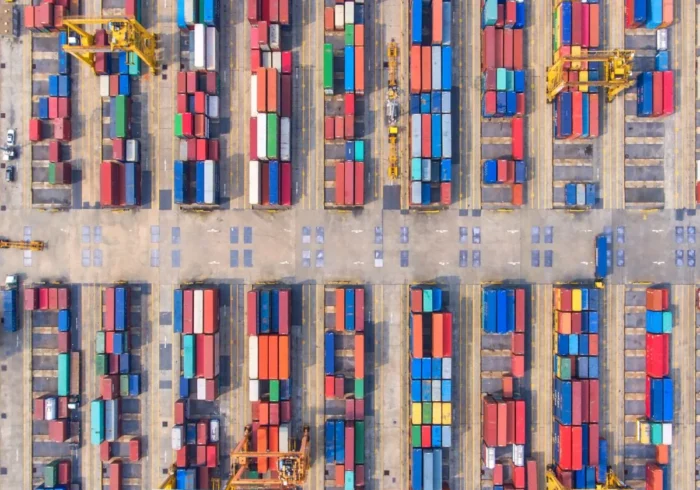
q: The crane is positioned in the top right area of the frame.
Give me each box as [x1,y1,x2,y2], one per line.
[546,44,644,105]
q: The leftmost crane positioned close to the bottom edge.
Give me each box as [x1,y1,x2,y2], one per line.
[150,462,237,490]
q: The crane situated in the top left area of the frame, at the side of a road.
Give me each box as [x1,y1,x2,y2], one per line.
[62,14,157,76]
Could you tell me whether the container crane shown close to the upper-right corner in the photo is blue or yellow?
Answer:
yellow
